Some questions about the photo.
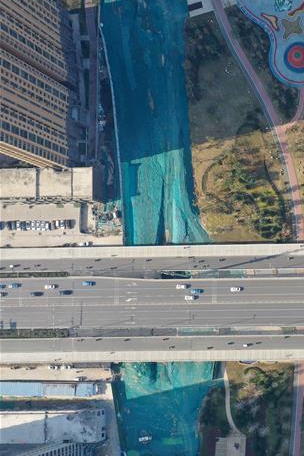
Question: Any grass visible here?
Yes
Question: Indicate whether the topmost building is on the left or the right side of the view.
left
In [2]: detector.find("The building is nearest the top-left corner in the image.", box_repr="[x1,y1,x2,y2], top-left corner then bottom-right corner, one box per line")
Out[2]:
[0,0,69,169]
